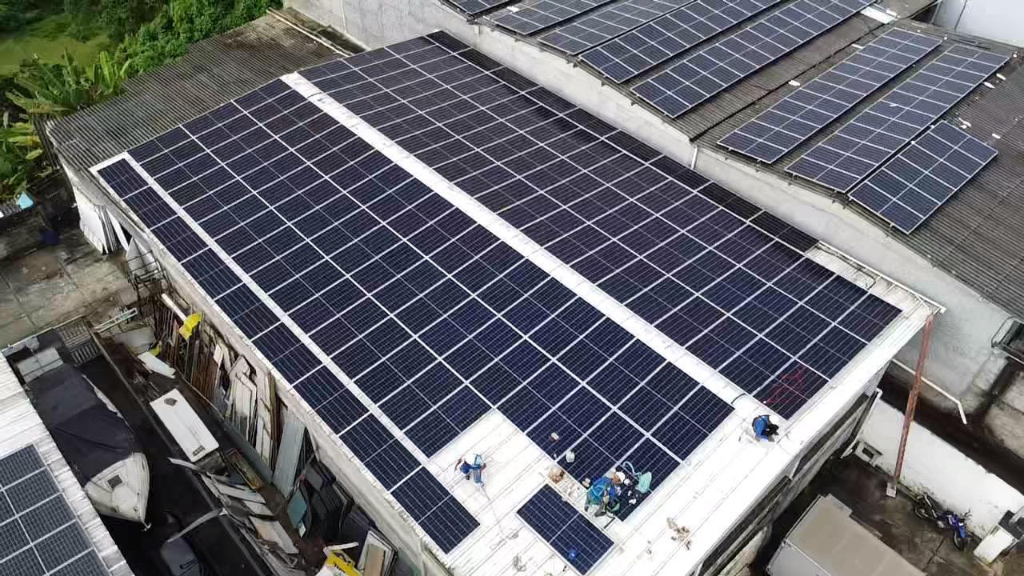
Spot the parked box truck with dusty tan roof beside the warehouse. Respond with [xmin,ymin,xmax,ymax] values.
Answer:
[766,491,935,576]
